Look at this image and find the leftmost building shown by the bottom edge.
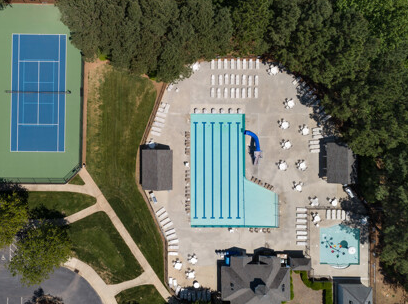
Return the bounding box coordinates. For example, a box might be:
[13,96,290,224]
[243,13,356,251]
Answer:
[220,254,290,304]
